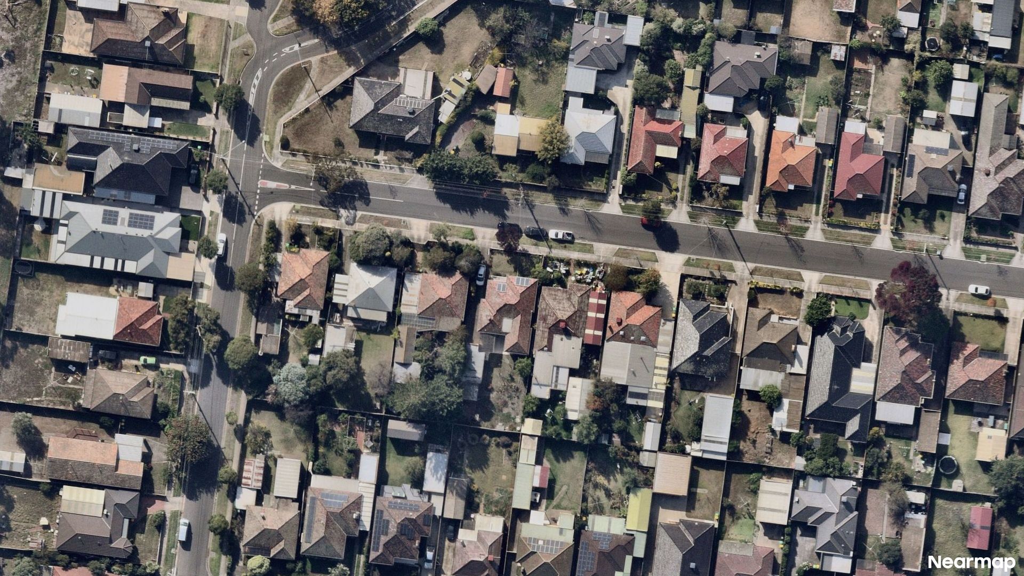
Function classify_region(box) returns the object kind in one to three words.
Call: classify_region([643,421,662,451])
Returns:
shed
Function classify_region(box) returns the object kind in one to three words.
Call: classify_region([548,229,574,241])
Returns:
vehicle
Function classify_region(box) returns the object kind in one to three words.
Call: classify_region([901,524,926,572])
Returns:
building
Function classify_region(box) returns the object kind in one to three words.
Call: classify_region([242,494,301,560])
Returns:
house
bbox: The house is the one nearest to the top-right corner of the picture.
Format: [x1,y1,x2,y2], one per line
[970,0,1015,50]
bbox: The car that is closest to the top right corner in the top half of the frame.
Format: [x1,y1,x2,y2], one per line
[960,120,972,144]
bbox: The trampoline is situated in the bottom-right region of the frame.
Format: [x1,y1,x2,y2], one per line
[938,455,957,474]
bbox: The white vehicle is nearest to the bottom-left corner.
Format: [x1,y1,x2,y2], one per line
[177,517,190,542]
